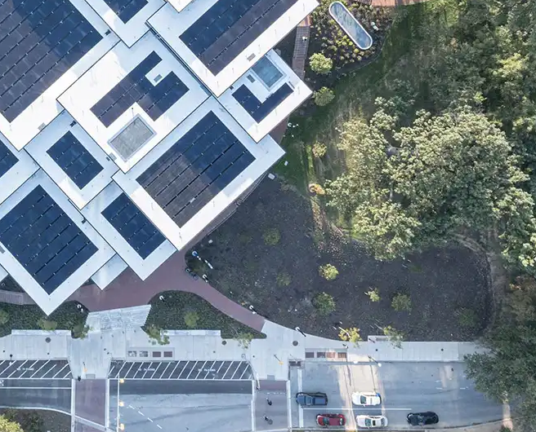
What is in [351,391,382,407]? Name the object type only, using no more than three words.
car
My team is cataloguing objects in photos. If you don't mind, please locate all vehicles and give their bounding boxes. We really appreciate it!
[315,413,345,430]
[406,410,438,425]
[293,391,327,407]
[354,414,388,430]
[351,391,382,407]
